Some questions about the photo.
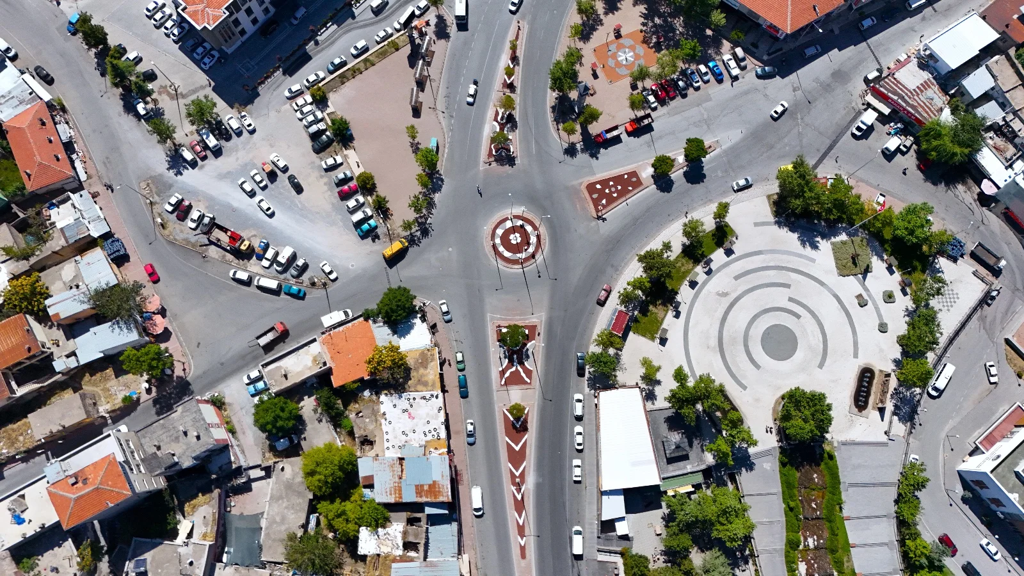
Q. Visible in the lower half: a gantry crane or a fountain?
fountain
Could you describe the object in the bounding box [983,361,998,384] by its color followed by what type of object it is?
white car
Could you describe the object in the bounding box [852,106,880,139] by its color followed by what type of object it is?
white vehicle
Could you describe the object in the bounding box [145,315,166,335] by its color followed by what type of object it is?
pink umbrella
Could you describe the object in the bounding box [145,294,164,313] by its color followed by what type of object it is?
pink umbrella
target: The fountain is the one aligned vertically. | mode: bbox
[849,365,878,418]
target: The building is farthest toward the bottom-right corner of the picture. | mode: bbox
[958,402,1024,541]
